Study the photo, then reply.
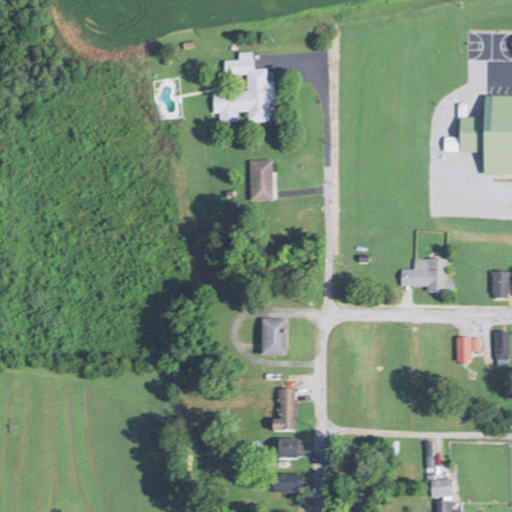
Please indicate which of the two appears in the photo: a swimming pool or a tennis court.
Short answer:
swimming pool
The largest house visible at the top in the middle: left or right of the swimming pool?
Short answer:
right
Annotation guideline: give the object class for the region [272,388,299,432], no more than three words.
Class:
house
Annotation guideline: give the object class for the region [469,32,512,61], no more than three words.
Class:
basketball court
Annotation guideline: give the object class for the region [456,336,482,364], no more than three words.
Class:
building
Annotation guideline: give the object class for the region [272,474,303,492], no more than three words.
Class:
house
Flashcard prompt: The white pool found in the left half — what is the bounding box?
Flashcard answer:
[154,80,195,118]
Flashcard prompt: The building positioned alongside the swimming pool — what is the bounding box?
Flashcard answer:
[214,52,274,124]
